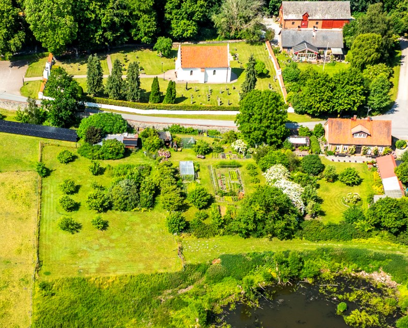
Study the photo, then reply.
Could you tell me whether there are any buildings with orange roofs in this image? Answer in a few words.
Yes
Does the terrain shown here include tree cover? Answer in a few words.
Yes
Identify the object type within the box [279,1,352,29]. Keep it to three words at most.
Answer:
barn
